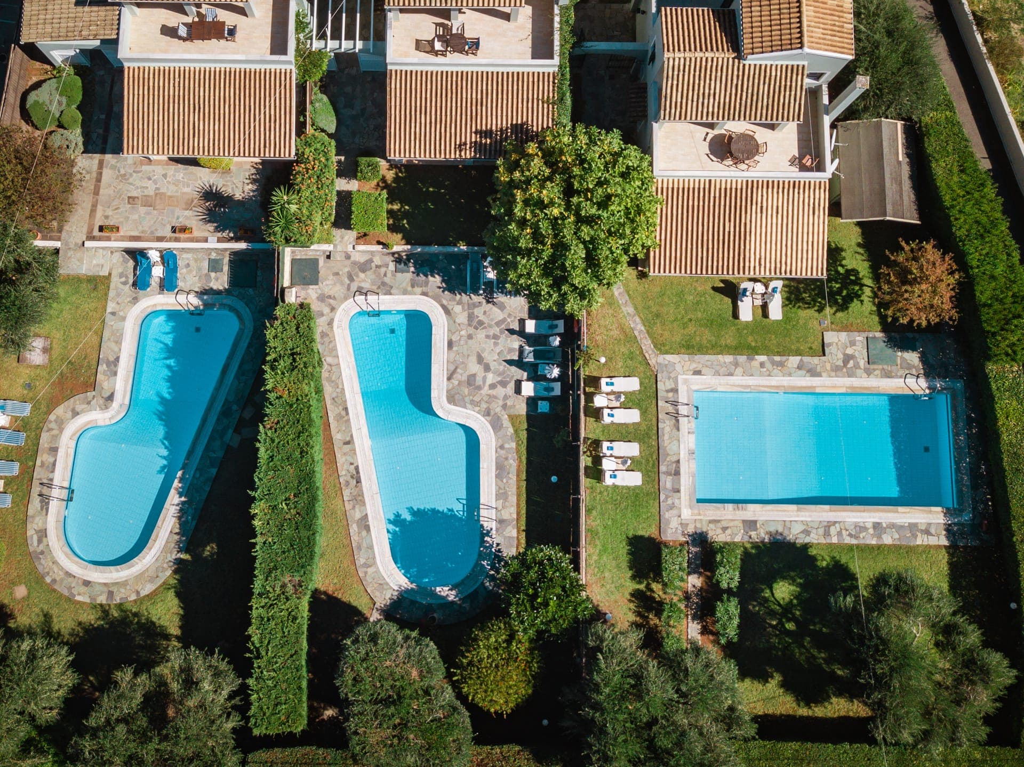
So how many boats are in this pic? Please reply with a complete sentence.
There are no boats in this view.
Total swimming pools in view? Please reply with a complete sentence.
Looking from above, you can make out 3 swimming pools.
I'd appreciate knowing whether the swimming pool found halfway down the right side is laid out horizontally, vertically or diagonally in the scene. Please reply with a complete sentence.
The swimming pool found halfway down the right side runs horizontally in the image.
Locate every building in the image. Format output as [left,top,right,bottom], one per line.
[613,0,856,279]
[383,0,560,165]
[831,121,921,223]
[19,0,306,162]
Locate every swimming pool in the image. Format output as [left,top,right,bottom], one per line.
[334,294,495,603]
[678,375,972,521]
[47,293,254,581]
